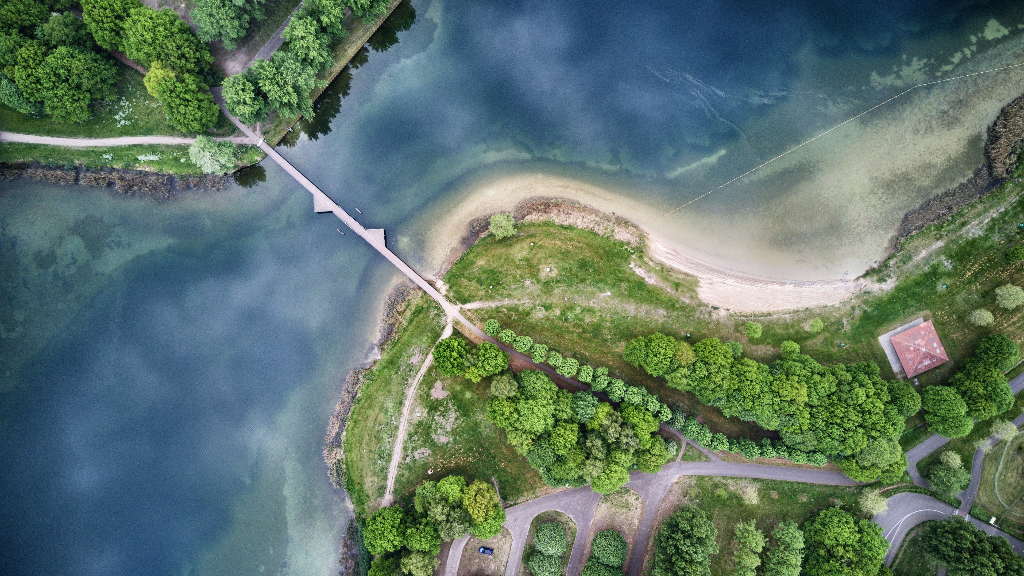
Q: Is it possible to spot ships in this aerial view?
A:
No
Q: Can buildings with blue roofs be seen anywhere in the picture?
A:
No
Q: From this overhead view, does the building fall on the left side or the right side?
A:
right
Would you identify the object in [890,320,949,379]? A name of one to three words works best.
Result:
building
